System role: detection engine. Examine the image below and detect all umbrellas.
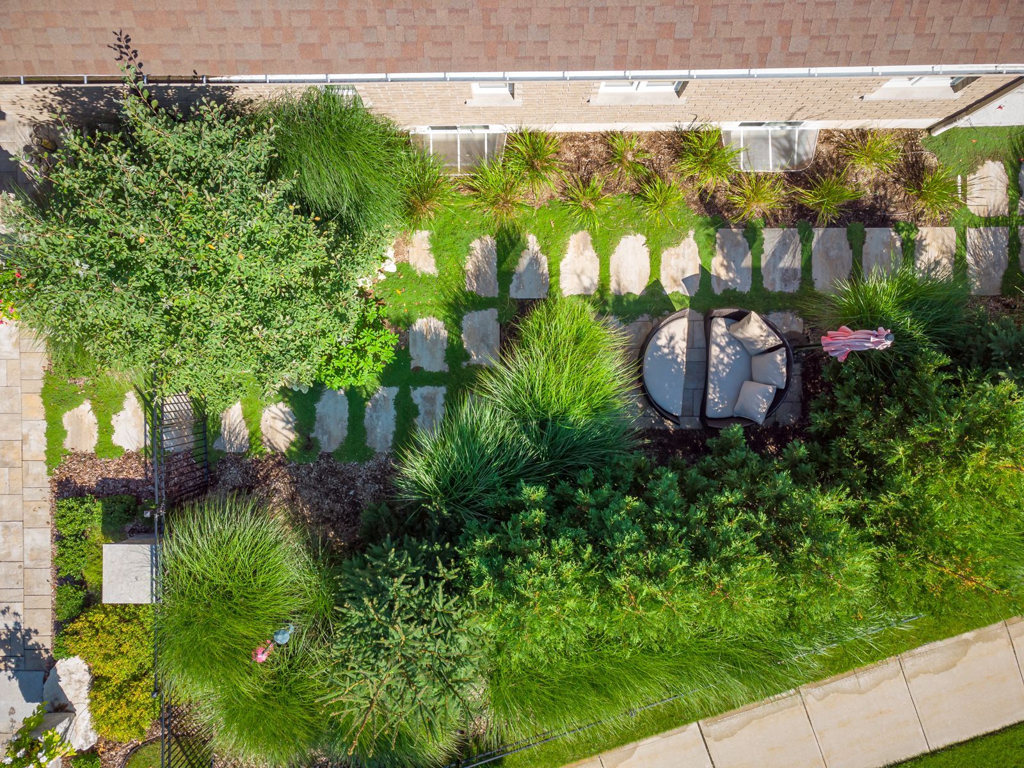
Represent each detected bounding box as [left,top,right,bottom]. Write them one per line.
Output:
[788,323,891,364]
